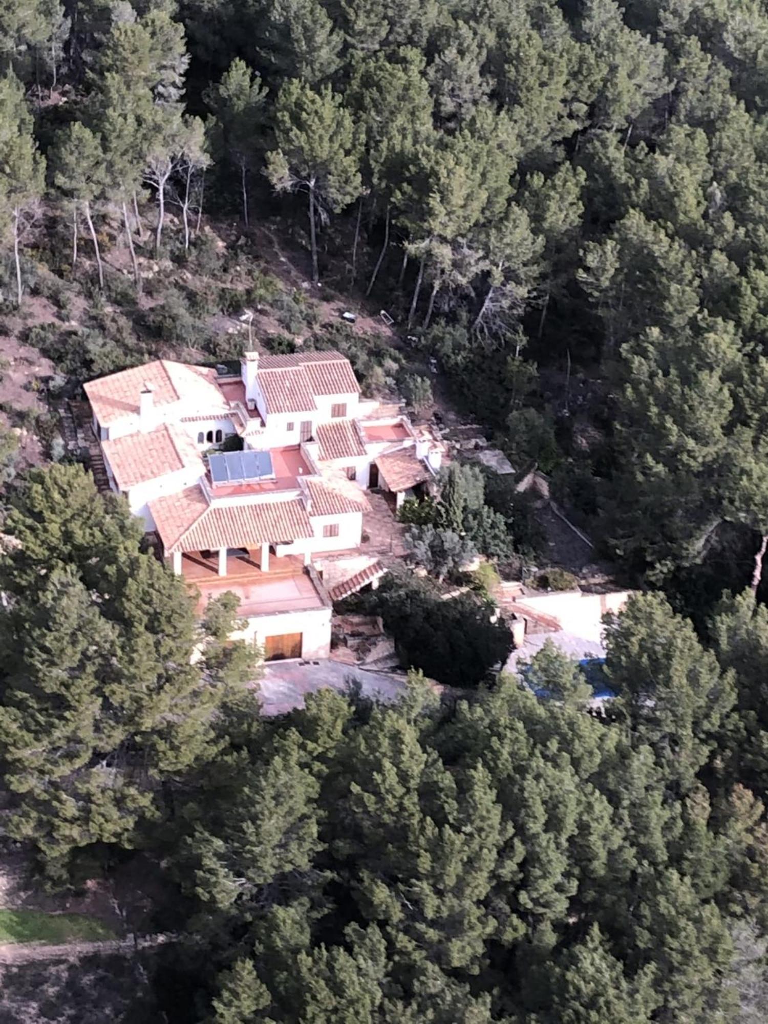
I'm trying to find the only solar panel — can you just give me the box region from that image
[209,450,279,487]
